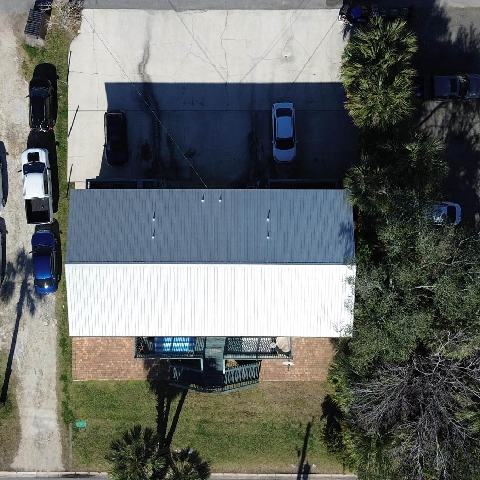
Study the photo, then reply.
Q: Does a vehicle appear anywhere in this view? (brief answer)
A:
Yes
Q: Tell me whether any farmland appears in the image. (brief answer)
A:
No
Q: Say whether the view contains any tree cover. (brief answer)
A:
Yes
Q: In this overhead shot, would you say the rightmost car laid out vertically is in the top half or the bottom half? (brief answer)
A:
top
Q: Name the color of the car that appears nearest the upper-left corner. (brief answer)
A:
black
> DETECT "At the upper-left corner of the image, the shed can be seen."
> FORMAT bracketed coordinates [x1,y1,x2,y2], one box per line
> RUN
[22,7,51,41]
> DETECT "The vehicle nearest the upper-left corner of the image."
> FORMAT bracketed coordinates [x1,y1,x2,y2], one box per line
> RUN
[23,76,56,133]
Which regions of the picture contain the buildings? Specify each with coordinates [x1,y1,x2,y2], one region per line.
[22,7,51,41]
[64,189,356,339]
